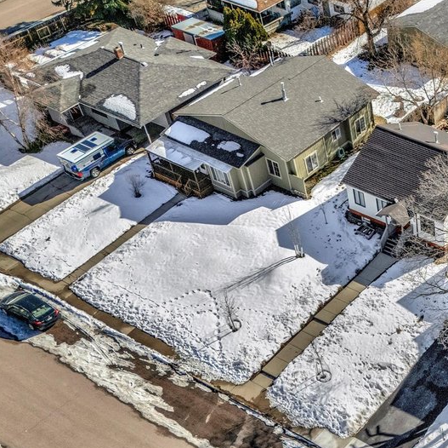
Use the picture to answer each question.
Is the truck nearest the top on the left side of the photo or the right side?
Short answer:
left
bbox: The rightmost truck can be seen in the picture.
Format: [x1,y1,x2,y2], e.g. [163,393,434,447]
[53,133,135,181]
